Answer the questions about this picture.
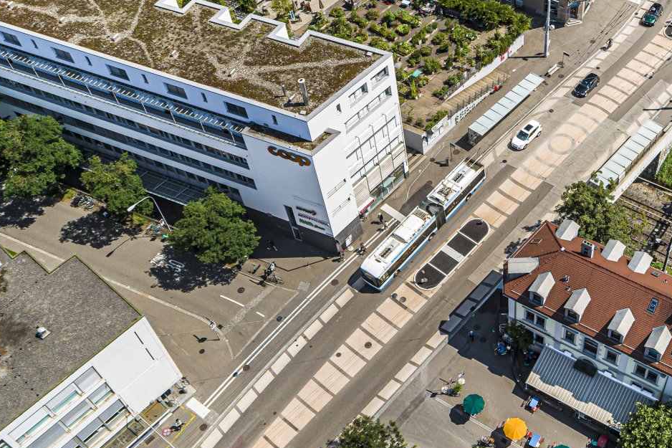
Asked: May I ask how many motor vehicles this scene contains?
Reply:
4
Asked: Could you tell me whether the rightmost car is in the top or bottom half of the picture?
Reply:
top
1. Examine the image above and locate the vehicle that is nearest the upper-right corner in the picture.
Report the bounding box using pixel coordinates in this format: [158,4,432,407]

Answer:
[642,2,664,24]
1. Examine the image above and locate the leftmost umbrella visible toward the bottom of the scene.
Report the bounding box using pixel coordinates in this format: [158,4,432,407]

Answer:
[460,393,487,420]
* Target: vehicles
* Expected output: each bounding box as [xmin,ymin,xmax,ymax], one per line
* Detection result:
[362,120,503,292]
[572,72,603,97]
[642,2,664,24]
[510,118,543,148]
